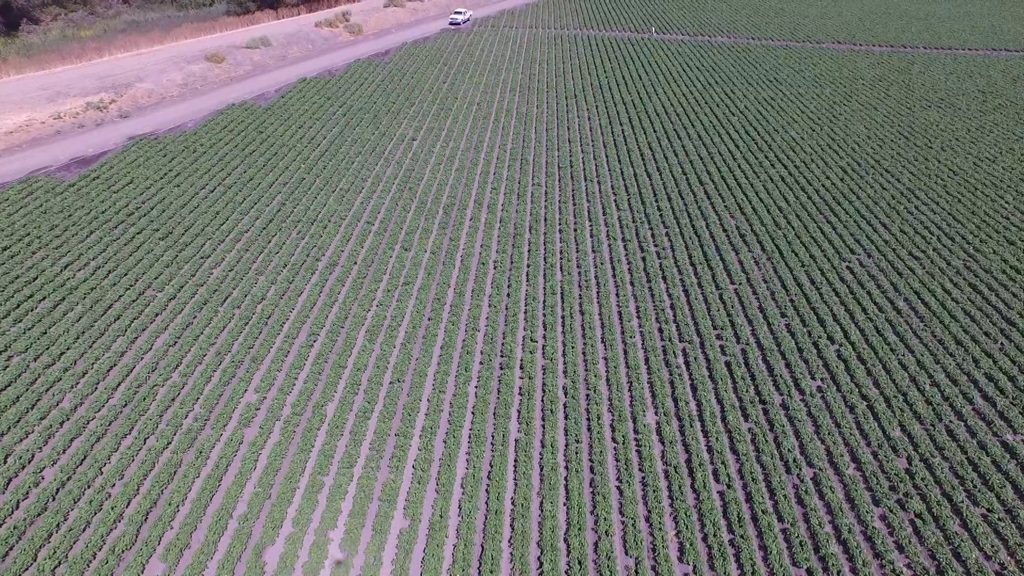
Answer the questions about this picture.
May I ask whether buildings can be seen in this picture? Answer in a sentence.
No, the frame has no building in it.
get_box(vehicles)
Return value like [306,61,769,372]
[450,9,473,25]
